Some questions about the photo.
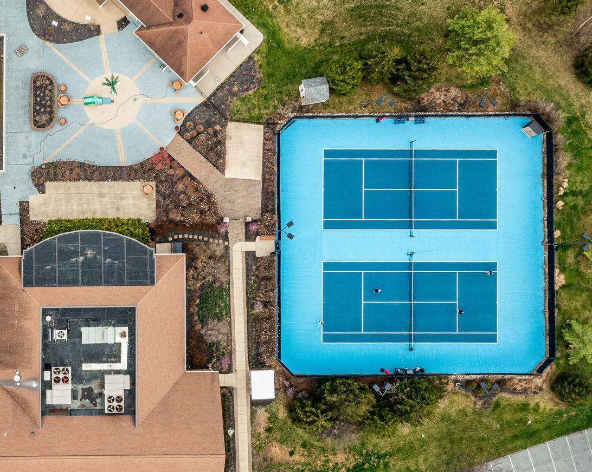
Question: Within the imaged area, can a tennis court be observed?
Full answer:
Yes, the picture does show a tennis court.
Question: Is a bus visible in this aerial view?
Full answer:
No, I can see no bus in this picture.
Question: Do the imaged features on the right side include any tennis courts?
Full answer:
Yes, there is a tennis court on the right side.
